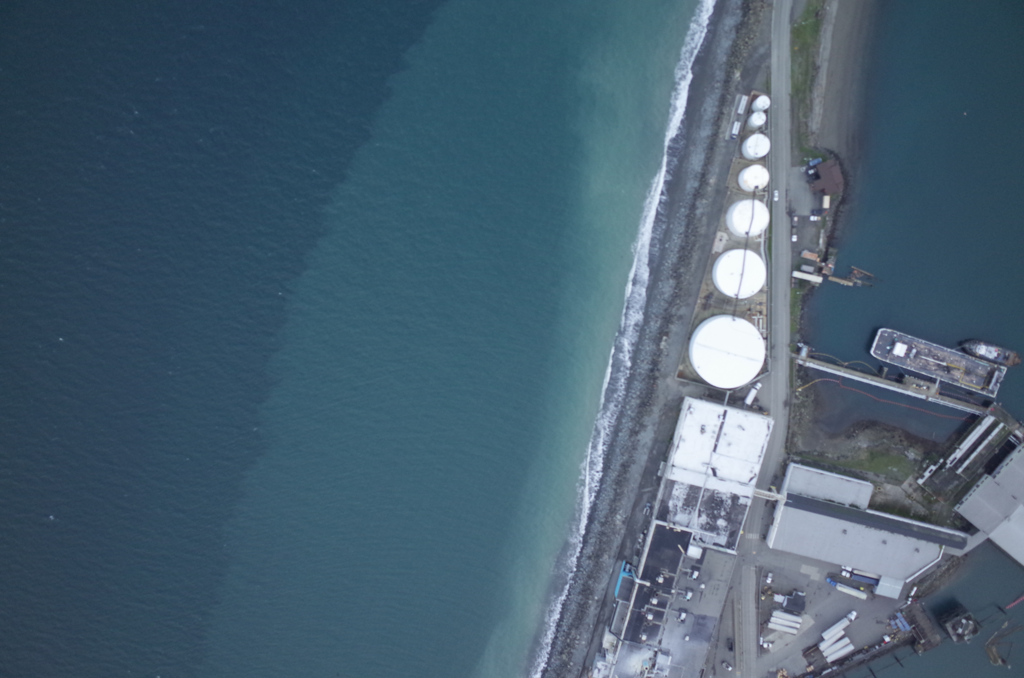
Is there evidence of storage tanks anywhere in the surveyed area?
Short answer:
Yes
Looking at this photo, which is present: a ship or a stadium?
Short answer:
ship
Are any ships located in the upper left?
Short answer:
No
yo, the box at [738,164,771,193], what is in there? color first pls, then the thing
white storage tank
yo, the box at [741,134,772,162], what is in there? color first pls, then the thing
white storage tank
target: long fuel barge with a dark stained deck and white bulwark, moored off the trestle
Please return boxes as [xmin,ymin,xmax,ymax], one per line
[869,328,1007,397]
